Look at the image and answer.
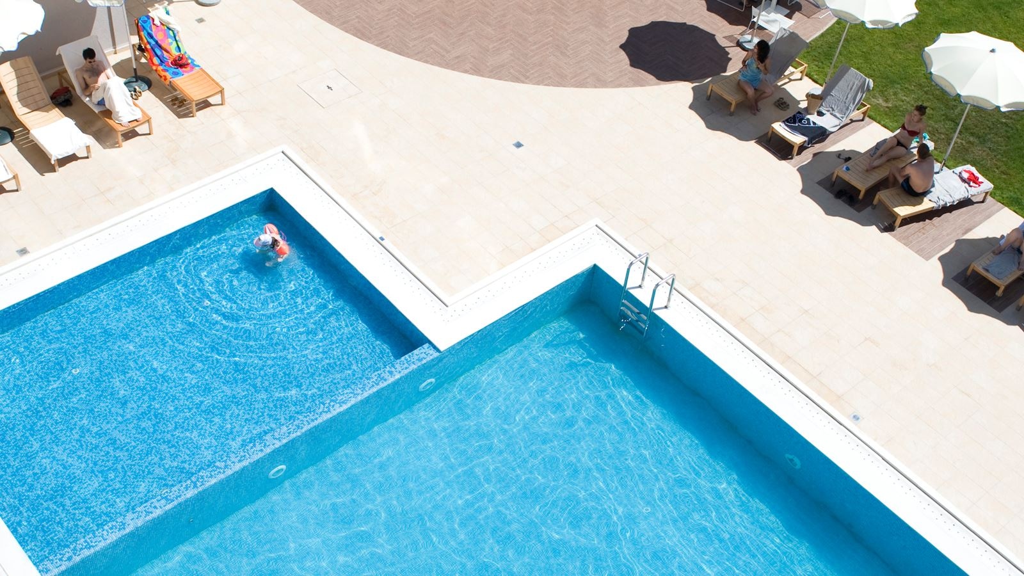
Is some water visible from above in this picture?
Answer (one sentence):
Yes, water can be seen from above here.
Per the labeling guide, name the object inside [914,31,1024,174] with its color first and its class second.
white umbrella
